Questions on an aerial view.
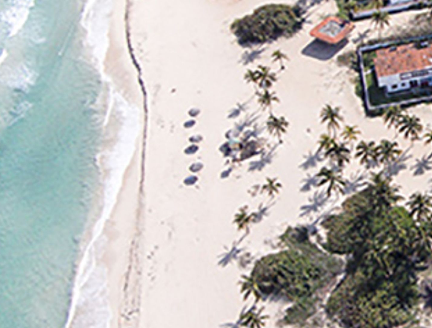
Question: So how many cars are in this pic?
0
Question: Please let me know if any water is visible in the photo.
Yes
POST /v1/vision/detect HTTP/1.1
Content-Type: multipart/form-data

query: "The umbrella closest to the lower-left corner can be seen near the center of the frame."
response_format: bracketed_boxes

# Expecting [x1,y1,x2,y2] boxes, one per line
[188,161,205,174]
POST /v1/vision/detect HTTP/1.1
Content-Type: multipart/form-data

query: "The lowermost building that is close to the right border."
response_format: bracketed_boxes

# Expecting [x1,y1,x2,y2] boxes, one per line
[373,43,432,100]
